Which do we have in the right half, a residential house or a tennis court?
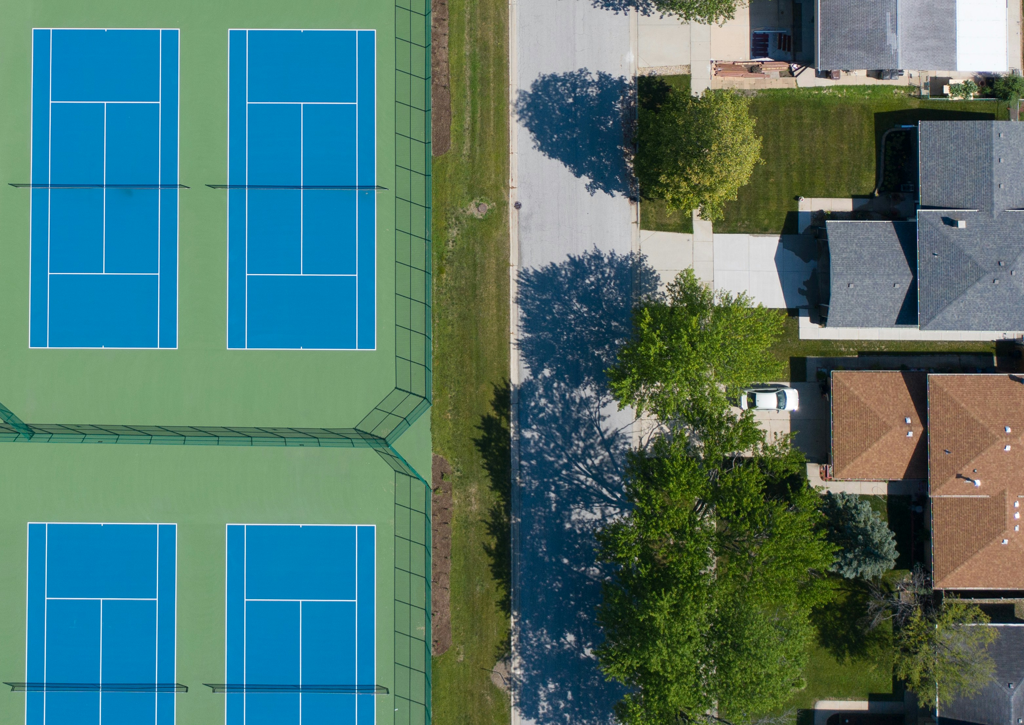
residential house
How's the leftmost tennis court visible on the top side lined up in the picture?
vertically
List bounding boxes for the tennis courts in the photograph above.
[227,28,376,350]
[25,523,177,725]
[29,28,180,349]
[225,524,376,725]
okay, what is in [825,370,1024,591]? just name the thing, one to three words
house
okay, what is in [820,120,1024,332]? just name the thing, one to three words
house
